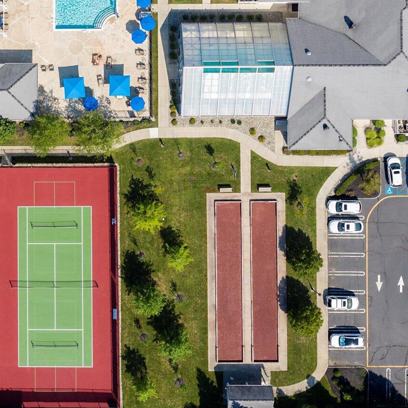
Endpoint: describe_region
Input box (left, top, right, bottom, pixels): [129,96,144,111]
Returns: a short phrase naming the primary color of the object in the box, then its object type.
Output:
blue umbrella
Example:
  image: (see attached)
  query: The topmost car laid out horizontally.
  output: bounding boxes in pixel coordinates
[327,199,361,216]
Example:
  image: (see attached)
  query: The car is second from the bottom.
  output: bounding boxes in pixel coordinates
[326,295,358,311]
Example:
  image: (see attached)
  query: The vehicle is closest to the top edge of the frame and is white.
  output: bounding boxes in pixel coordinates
[387,157,404,187]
